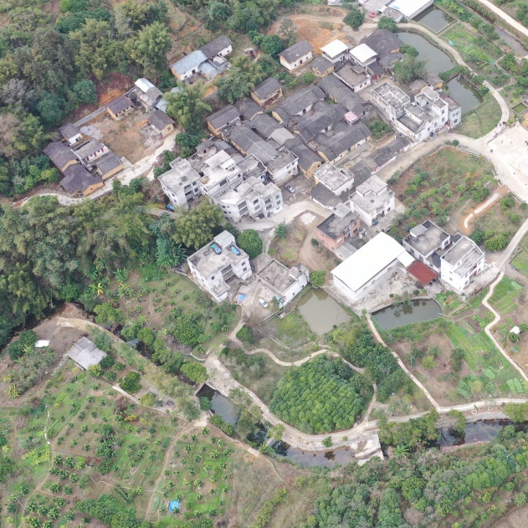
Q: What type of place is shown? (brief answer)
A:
residential area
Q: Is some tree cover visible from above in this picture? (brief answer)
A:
Yes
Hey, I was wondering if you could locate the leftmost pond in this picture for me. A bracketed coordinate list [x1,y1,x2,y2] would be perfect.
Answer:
[296,291,352,337]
